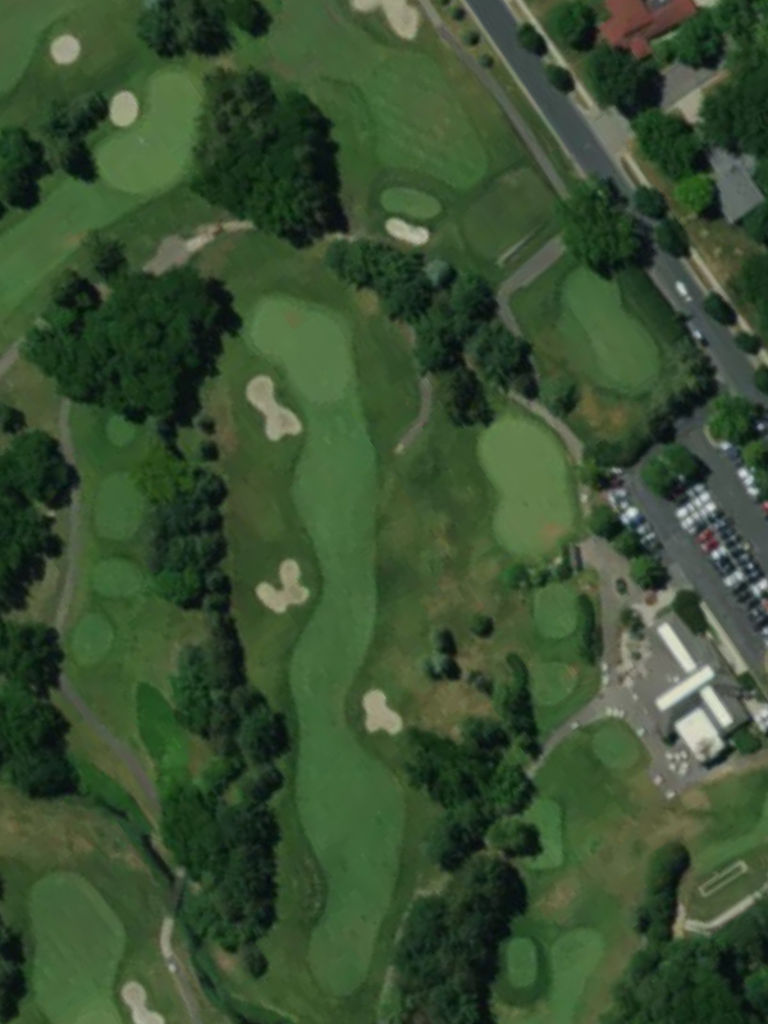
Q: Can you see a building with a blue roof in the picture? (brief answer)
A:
No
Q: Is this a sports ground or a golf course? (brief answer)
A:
golf course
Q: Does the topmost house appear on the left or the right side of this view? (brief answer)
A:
right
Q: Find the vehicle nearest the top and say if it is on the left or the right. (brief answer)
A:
right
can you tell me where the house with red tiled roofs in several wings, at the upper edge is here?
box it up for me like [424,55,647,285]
[602,0,699,58]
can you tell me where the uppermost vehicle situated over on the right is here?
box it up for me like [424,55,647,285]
[673,278,693,300]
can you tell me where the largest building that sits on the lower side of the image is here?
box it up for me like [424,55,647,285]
[648,608,755,761]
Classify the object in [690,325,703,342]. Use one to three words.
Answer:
vehicle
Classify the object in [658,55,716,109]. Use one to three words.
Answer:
house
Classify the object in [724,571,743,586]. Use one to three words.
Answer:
car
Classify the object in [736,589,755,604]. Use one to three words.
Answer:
car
